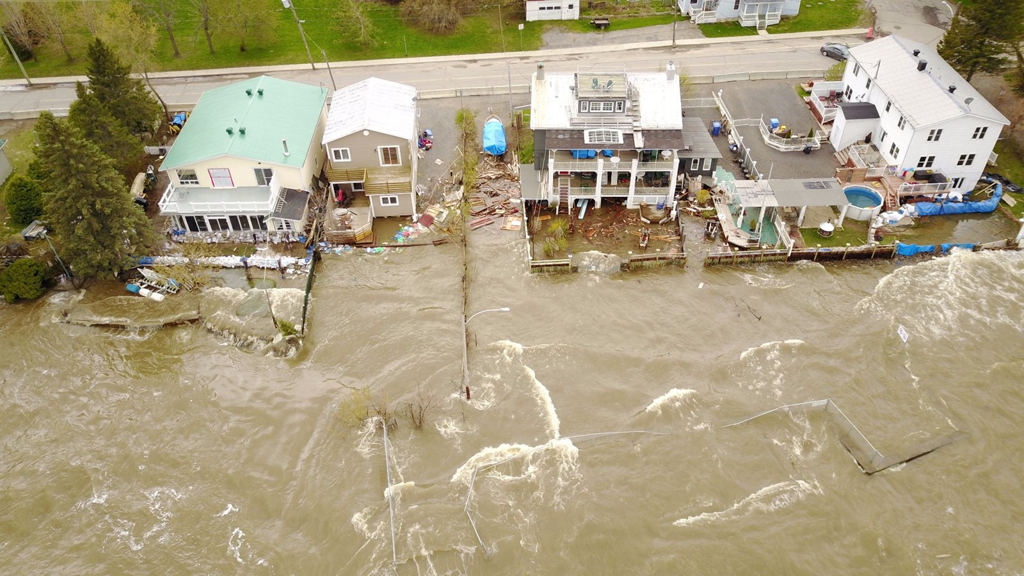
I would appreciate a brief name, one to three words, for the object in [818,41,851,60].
car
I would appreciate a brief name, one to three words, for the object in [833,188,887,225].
swimming pool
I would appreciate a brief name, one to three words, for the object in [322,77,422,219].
house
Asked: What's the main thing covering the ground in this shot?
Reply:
water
